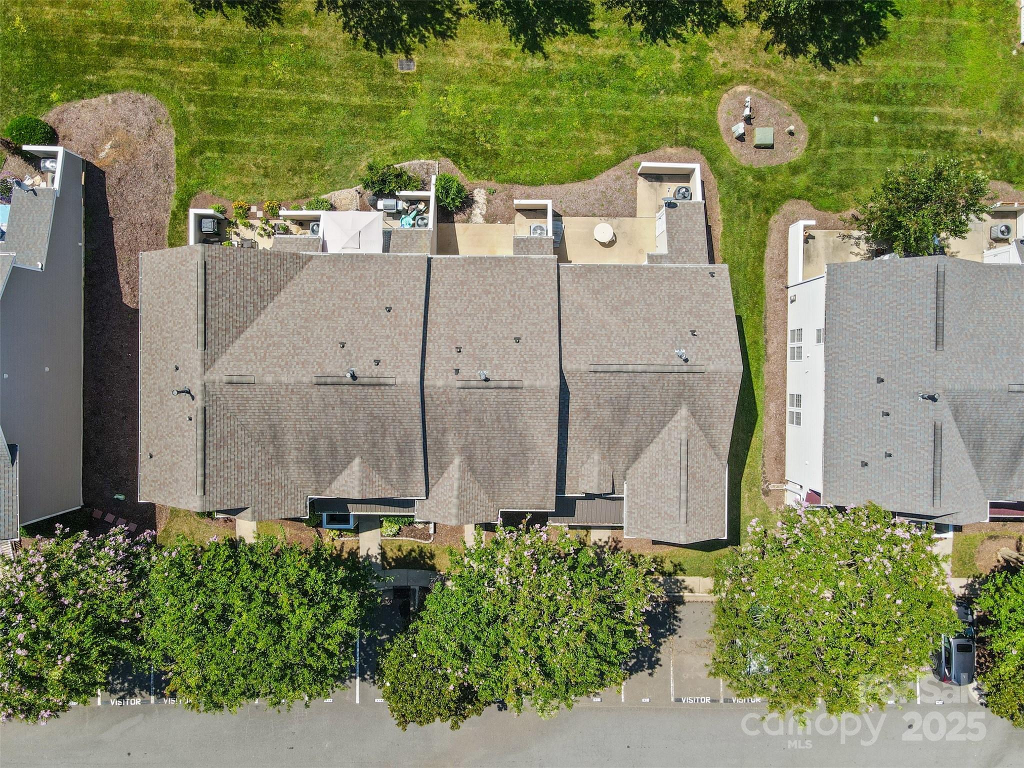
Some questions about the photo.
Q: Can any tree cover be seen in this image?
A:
Yes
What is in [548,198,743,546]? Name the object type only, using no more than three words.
house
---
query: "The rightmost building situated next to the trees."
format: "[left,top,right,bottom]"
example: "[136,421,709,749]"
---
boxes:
[781,237,1024,530]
